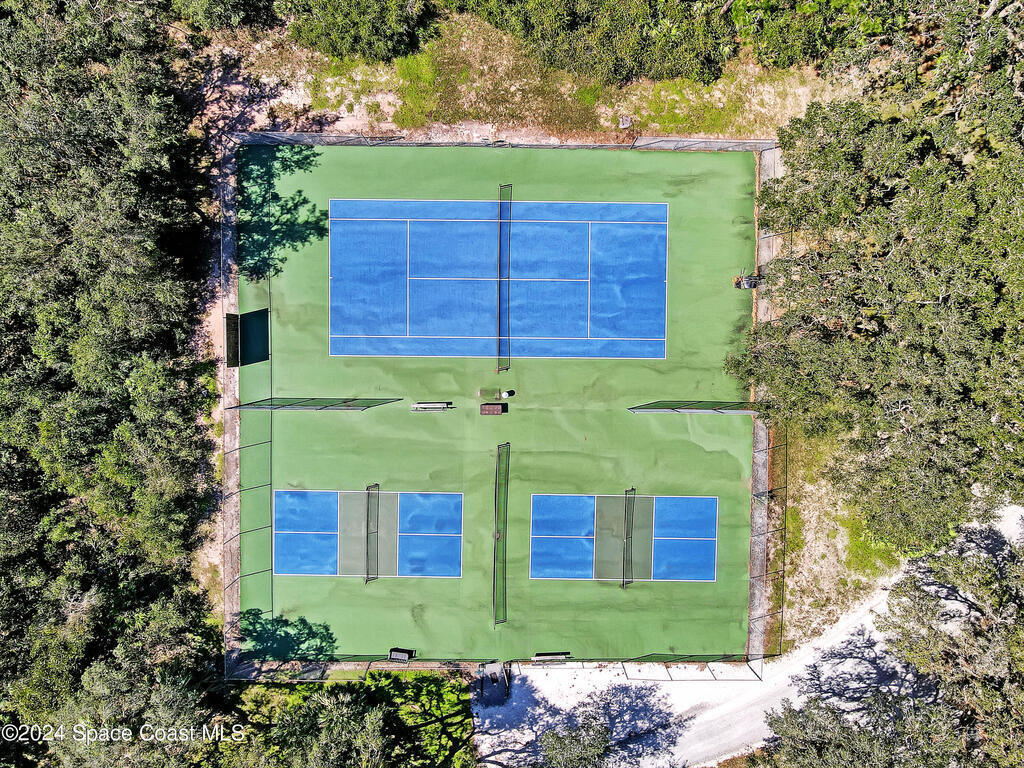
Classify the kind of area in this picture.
sports ground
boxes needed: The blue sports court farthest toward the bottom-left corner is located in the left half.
[273,490,463,577]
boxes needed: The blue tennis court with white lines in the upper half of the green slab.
[329,199,668,359]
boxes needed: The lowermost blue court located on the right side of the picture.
[530,494,718,581]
